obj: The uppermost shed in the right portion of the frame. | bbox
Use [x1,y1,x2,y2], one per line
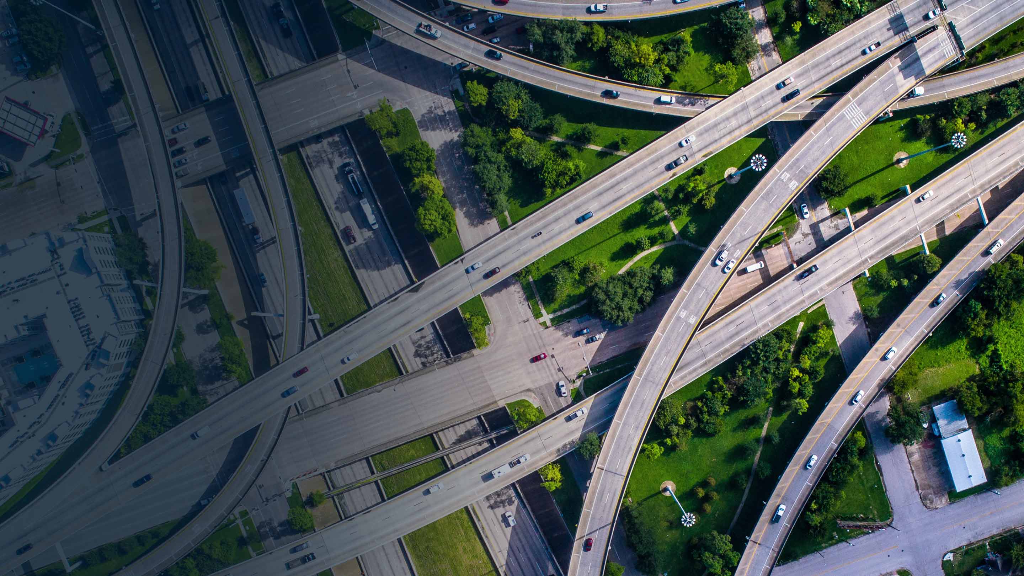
[929,399,968,438]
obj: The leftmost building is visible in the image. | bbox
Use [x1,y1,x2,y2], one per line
[0,231,141,490]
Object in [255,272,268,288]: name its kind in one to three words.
vehicle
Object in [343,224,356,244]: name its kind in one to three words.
vehicle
